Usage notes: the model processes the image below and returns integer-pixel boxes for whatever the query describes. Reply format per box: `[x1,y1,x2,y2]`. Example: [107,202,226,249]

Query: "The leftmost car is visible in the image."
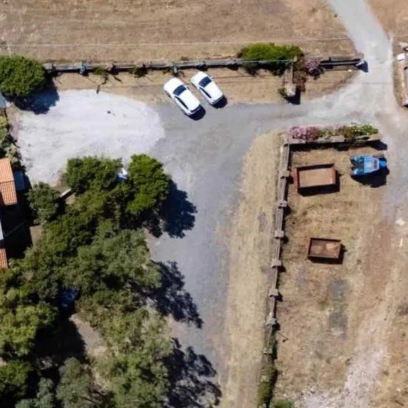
[163,76,202,119]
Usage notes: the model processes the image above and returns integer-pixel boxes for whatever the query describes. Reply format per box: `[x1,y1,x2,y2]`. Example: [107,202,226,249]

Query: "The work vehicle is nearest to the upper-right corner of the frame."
[344,156,386,178]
